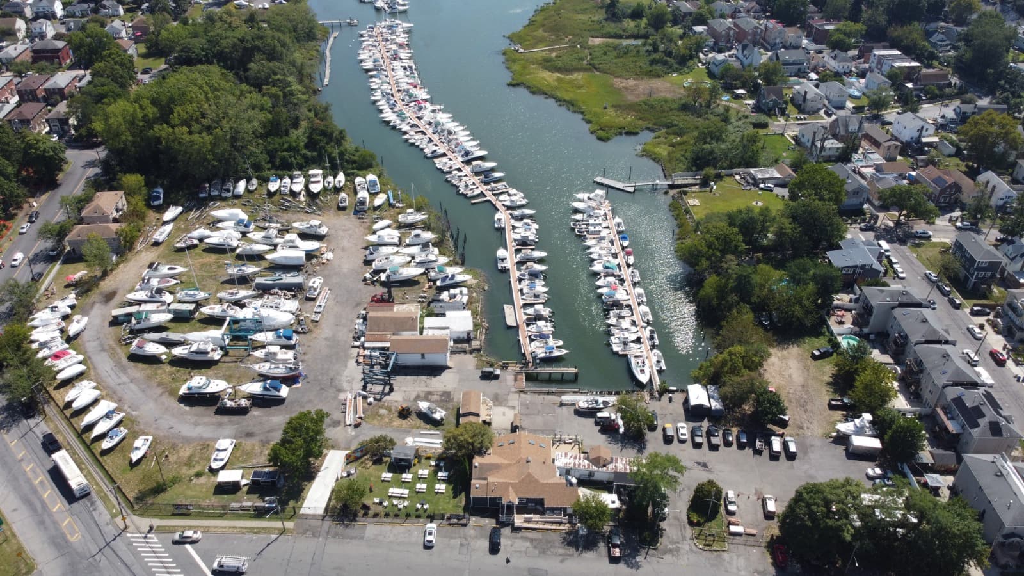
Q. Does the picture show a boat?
Yes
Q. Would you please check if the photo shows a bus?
Yes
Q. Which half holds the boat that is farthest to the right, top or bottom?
bottom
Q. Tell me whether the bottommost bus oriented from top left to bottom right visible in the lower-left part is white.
Yes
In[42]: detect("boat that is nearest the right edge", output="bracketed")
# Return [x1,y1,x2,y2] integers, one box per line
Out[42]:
[837,413,874,438]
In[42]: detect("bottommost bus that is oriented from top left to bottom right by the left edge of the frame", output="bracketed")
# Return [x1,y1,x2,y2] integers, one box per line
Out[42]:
[51,446,92,499]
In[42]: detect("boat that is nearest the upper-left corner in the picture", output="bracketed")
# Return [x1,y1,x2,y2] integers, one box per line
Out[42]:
[150,186,164,208]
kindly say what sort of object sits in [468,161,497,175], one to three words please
boat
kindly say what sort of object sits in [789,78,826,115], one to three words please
house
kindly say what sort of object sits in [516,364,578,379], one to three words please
pier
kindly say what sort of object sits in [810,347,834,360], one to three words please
vehicle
